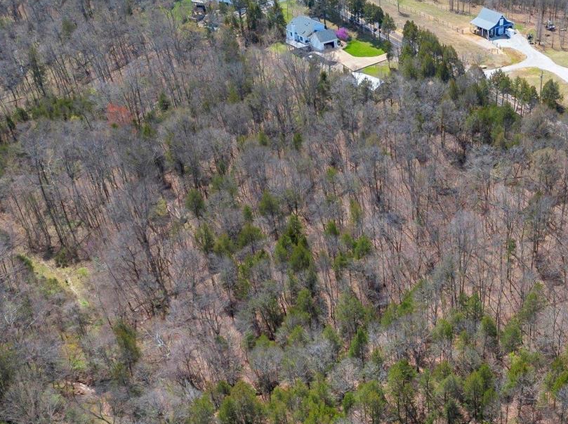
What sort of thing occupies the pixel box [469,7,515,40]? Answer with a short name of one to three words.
barn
